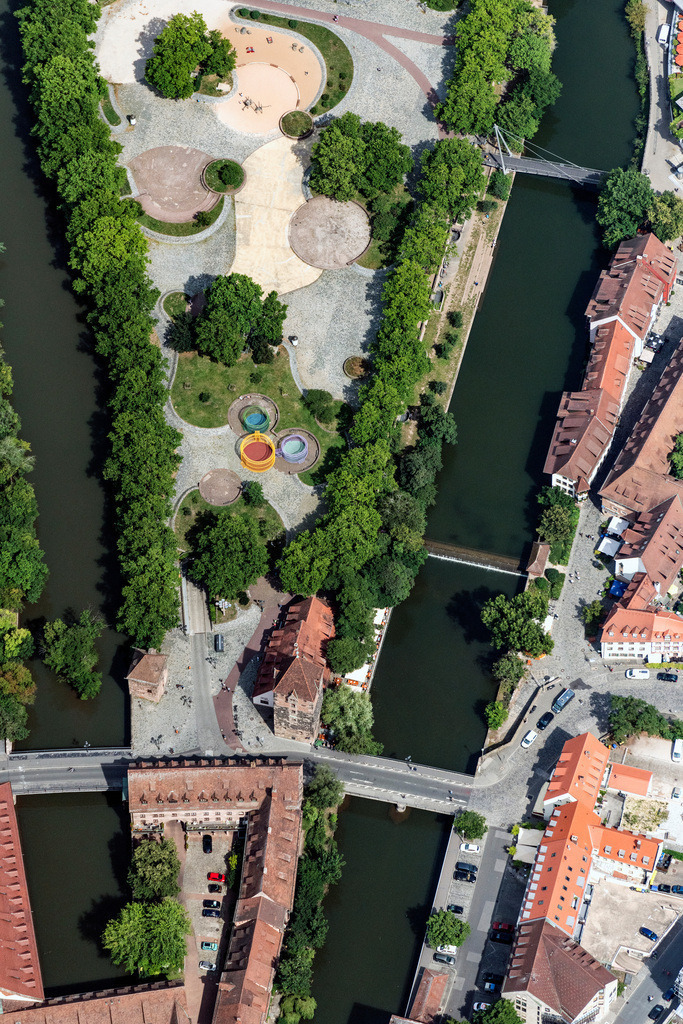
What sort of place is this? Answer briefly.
residential area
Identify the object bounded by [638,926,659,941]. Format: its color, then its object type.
blue car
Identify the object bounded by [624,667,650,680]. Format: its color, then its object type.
white vehicle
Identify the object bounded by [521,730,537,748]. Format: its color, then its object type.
white car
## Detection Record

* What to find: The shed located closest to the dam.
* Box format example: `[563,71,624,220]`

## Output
[526,543,551,586]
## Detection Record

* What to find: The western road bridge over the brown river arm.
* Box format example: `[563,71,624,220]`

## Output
[0,747,131,799]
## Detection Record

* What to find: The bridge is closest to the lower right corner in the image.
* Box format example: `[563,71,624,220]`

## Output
[310,746,475,817]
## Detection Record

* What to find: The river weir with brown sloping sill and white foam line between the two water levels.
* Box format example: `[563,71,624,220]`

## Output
[428,539,529,577]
